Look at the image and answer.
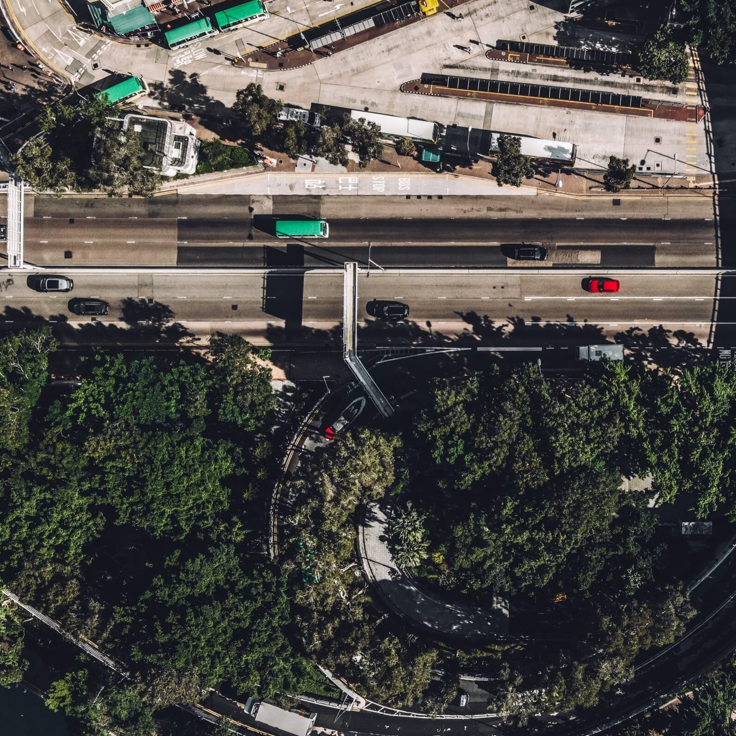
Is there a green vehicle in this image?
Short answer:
Yes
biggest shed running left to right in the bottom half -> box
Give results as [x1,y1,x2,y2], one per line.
[680,520,711,533]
